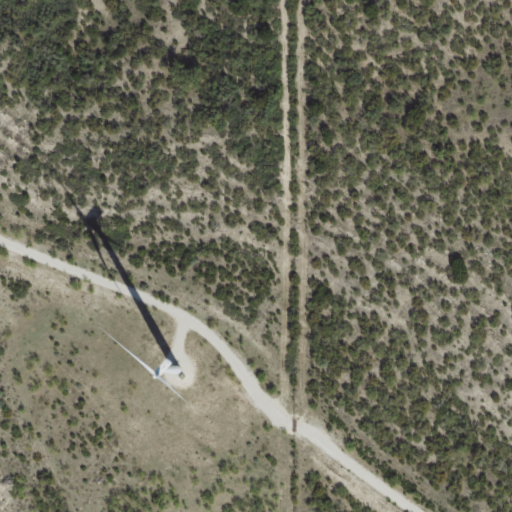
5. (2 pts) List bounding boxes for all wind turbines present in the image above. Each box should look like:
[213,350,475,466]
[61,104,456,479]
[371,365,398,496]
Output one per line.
[100,326,188,403]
